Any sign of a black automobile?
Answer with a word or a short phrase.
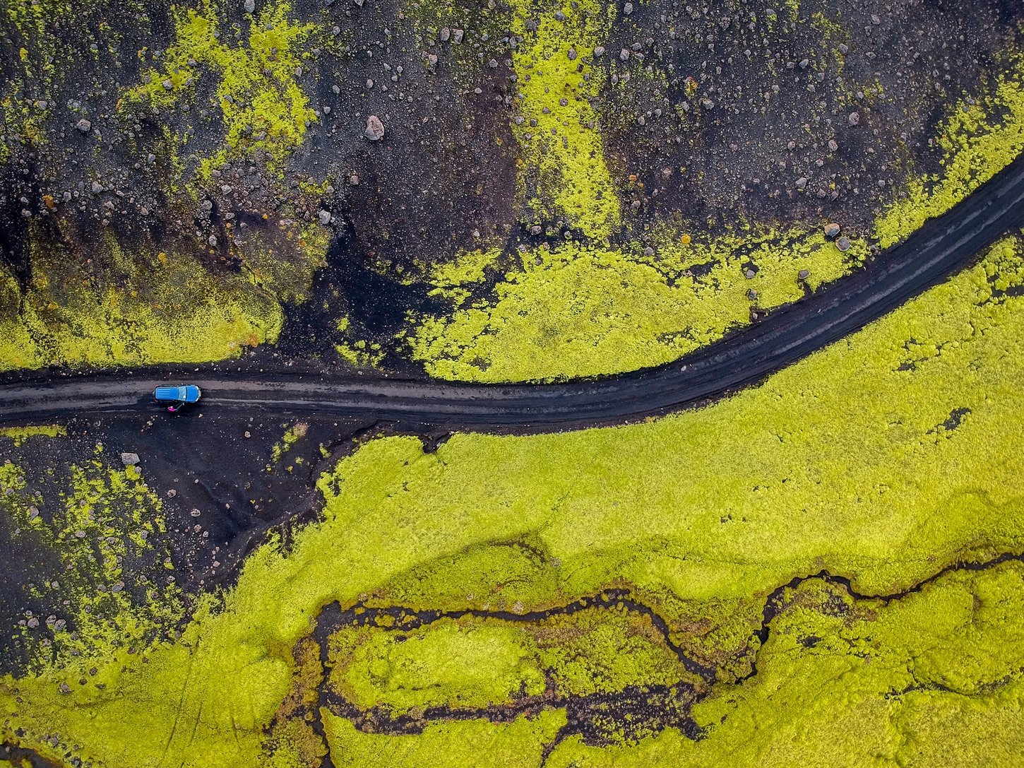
No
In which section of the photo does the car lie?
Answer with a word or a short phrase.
left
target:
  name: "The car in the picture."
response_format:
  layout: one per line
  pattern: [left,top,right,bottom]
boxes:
[151,383,202,412]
